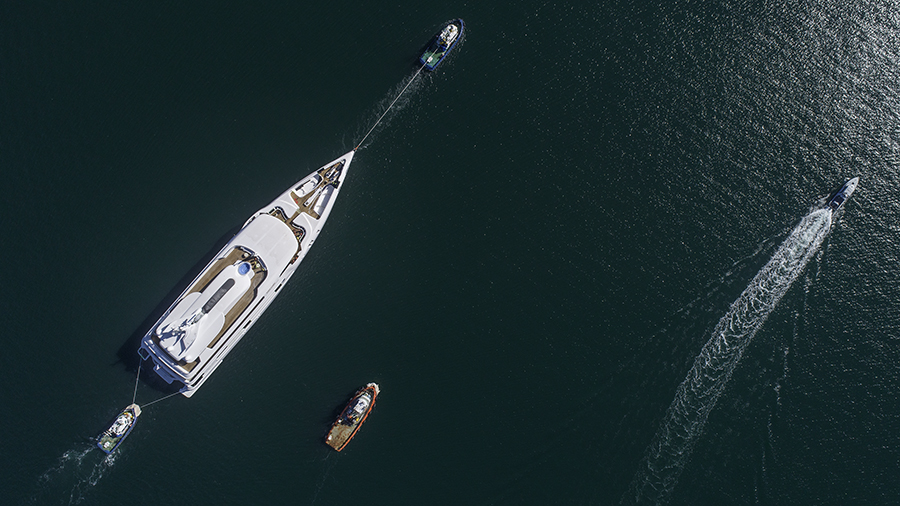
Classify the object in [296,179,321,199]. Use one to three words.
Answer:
boat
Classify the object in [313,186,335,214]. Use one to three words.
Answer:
boat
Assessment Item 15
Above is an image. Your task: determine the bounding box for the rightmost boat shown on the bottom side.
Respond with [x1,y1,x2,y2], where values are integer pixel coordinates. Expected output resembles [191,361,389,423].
[326,384,378,452]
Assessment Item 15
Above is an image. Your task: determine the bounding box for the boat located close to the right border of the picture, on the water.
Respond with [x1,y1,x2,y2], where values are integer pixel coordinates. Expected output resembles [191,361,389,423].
[827,177,860,211]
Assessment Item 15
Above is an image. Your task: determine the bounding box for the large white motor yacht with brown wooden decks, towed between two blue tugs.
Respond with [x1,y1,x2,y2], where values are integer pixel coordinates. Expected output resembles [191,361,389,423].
[139,150,355,397]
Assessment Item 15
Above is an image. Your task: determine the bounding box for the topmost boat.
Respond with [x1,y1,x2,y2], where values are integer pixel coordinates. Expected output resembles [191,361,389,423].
[419,18,464,71]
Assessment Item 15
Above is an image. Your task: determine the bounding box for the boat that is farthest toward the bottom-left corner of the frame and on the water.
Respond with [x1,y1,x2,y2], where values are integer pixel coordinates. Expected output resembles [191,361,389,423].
[98,404,139,453]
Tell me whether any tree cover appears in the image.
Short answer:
No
